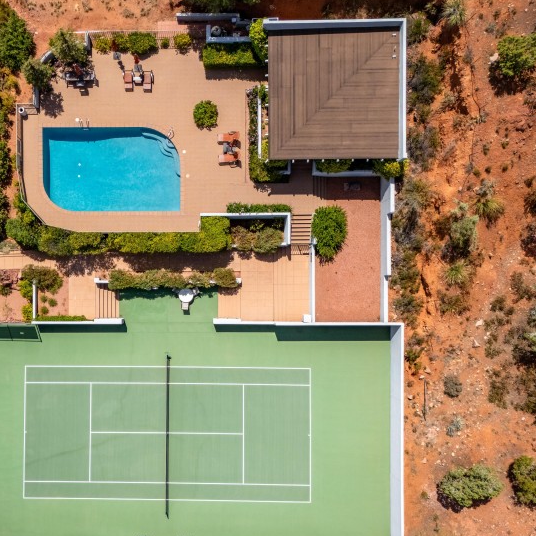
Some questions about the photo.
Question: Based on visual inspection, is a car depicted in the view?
No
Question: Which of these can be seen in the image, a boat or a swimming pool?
swimming pool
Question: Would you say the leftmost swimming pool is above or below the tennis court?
above it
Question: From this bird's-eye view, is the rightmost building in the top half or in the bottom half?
top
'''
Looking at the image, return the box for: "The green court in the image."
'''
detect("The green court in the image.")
[0,288,388,536]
